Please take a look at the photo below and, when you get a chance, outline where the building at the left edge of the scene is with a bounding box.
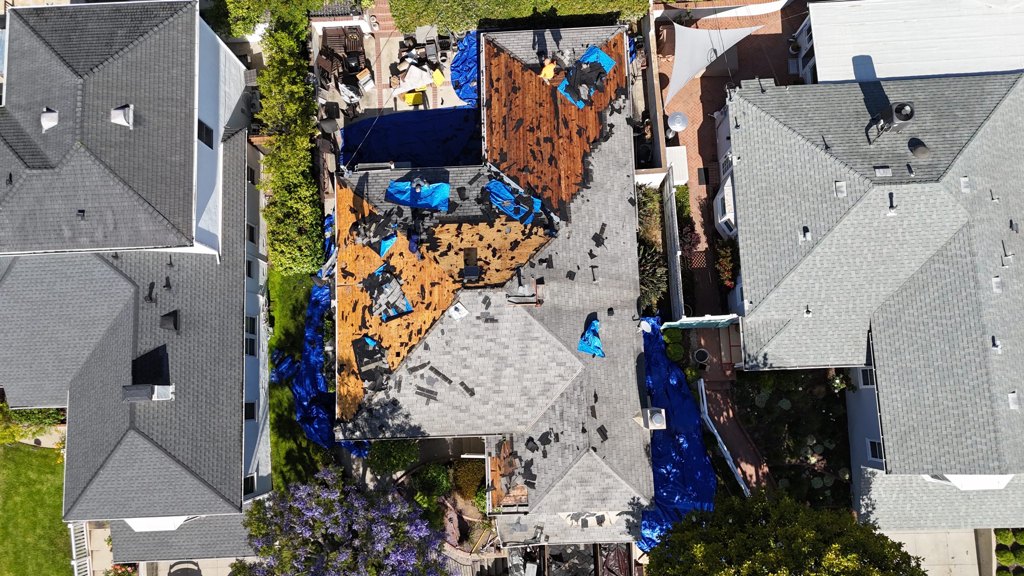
[0,0,268,564]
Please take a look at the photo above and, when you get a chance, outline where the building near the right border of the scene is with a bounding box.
[707,0,1024,529]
